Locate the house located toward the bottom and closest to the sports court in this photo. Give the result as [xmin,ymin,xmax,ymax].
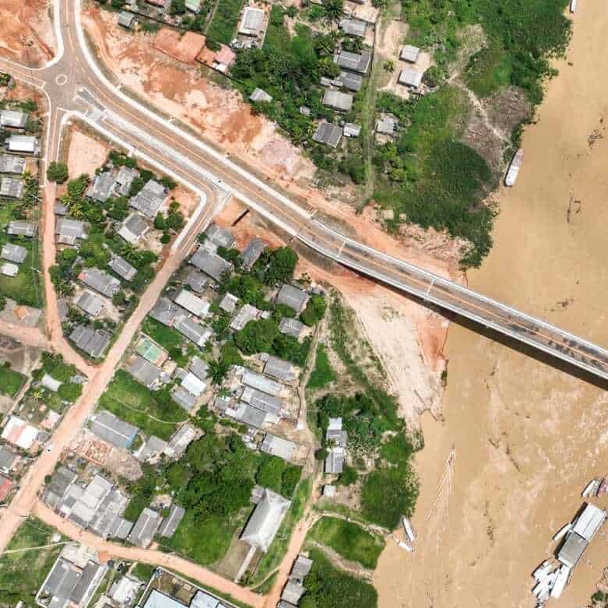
[128,356,163,387]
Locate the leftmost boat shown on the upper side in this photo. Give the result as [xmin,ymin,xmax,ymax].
[504,149,520,187]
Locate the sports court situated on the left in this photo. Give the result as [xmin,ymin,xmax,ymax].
[134,338,167,368]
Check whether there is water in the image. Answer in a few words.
Yes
